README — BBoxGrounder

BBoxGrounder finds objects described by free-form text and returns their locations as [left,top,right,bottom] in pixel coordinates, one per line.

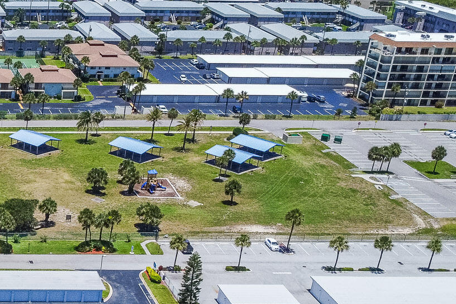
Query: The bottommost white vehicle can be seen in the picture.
[262,239,281,251]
